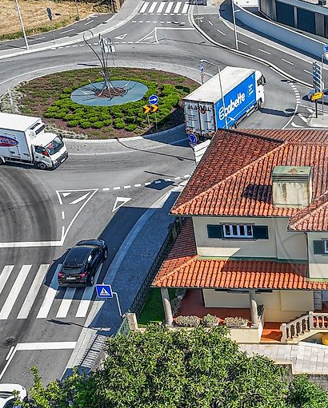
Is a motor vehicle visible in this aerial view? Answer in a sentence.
Yes, there's a motor vehicle down there.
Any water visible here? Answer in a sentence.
No, water can't be seen anywhere here.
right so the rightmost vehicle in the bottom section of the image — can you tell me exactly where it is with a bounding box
[58,239,112,288]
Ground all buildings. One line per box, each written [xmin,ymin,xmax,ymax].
[151,128,328,343]
[262,0,328,43]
